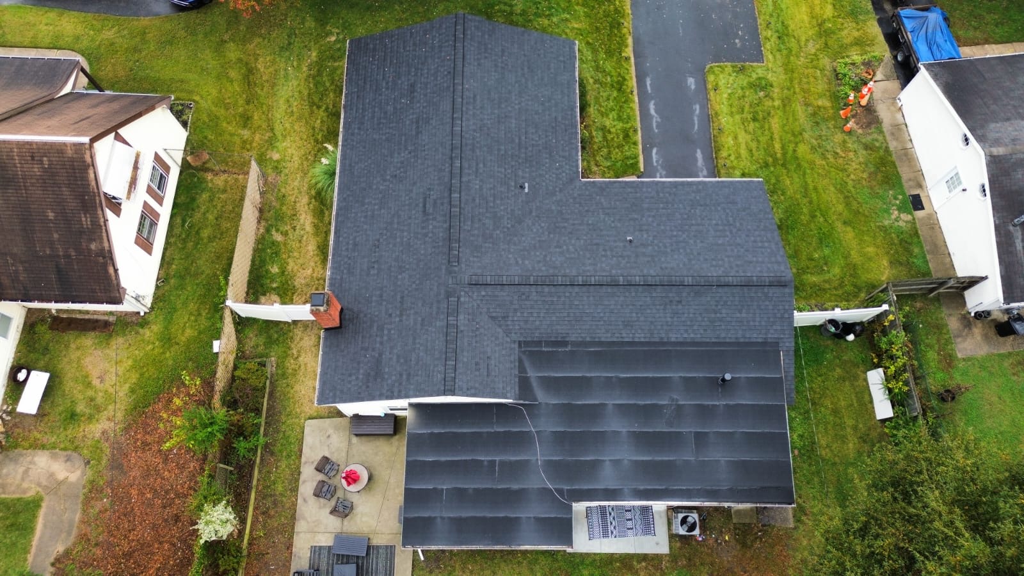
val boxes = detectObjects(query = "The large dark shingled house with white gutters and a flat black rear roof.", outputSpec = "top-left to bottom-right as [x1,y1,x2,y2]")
[310,13,795,564]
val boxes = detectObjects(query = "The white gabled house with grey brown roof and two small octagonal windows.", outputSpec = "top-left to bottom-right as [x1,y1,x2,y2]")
[898,52,1024,323]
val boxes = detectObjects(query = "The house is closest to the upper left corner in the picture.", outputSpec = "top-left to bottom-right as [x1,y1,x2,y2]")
[0,55,187,396]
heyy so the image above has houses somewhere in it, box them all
[898,52,1024,323]
[310,13,795,564]
[0,55,187,396]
